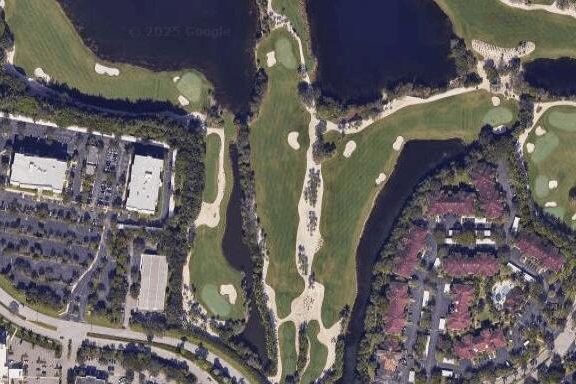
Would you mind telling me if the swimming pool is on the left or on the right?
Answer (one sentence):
The swimming pool is on the right side of the image.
